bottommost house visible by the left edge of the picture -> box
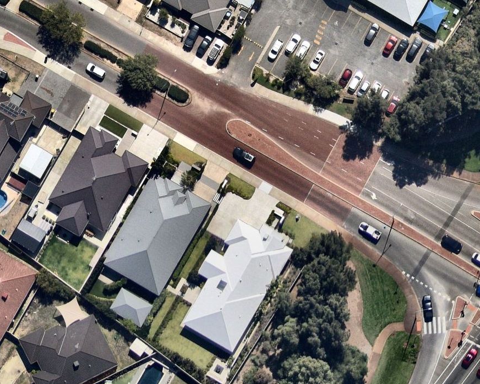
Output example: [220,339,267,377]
[19,315,118,384]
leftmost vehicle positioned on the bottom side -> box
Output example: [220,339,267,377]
[358,223,382,241]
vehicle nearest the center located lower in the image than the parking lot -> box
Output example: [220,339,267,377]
[231,147,256,164]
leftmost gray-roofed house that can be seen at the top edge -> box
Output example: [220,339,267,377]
[164,0,231,33]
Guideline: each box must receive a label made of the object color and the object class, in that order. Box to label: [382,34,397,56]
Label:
red car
